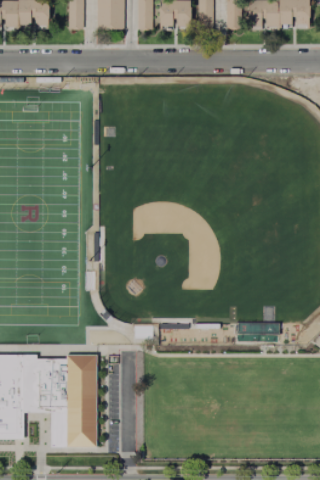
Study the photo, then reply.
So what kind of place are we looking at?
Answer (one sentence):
This image shows a sports ground.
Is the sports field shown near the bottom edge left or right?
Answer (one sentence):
The sports field shown near the bottom edge is on the right side of the image.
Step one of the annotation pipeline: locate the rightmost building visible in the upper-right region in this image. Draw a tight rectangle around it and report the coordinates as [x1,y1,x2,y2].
[242,0,310,30]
